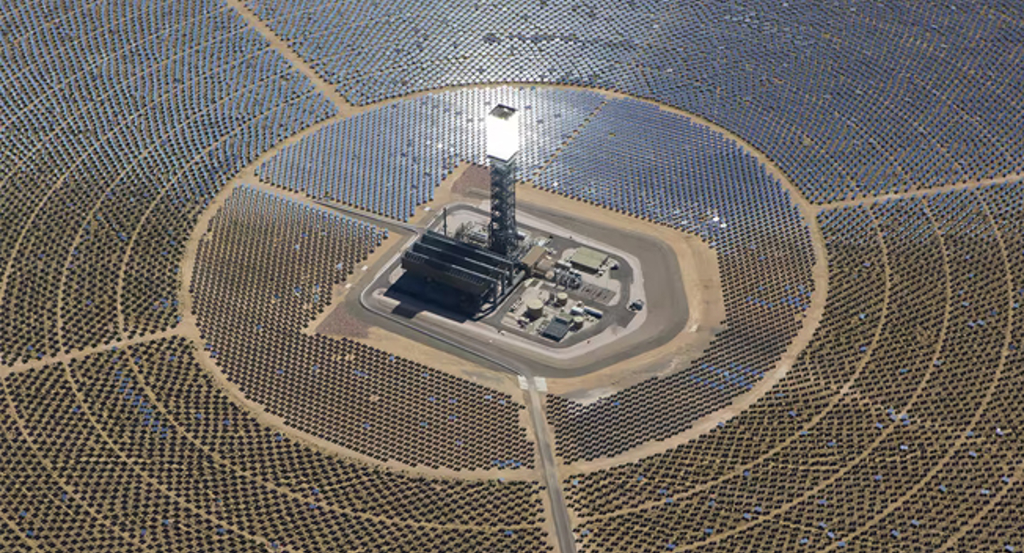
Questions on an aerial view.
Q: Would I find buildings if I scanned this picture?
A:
Yes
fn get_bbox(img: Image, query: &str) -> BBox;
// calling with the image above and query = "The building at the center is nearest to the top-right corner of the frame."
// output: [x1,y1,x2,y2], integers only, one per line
[570,247,608,277]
